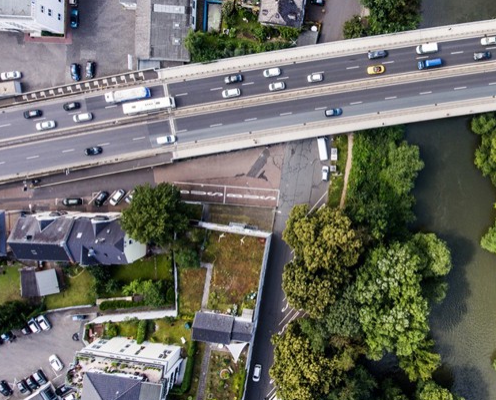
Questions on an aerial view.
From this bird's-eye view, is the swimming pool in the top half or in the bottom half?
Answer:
top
